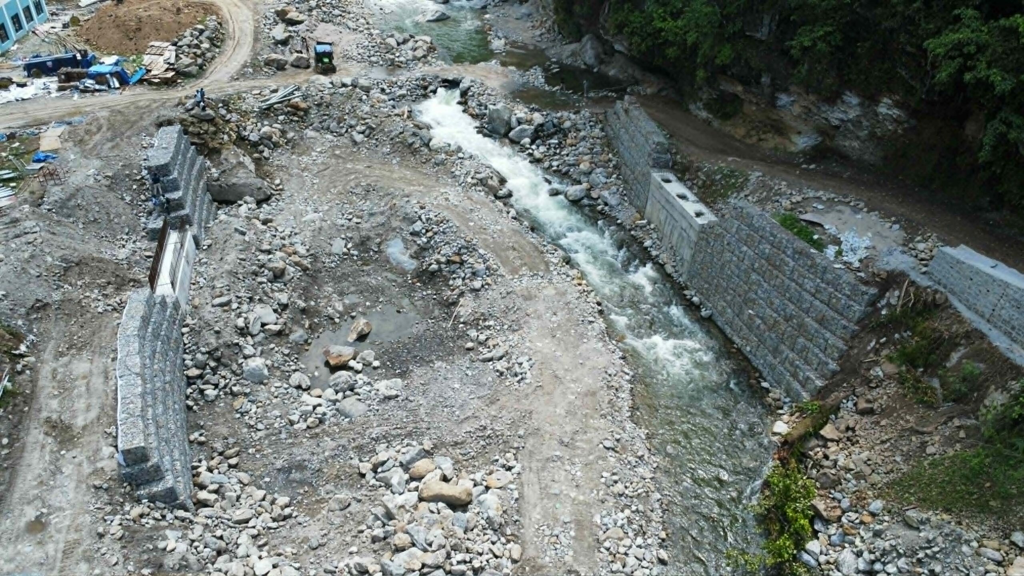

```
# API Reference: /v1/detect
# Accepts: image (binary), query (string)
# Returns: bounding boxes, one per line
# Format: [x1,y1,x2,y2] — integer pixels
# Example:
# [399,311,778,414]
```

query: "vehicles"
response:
[316,32,343,72]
